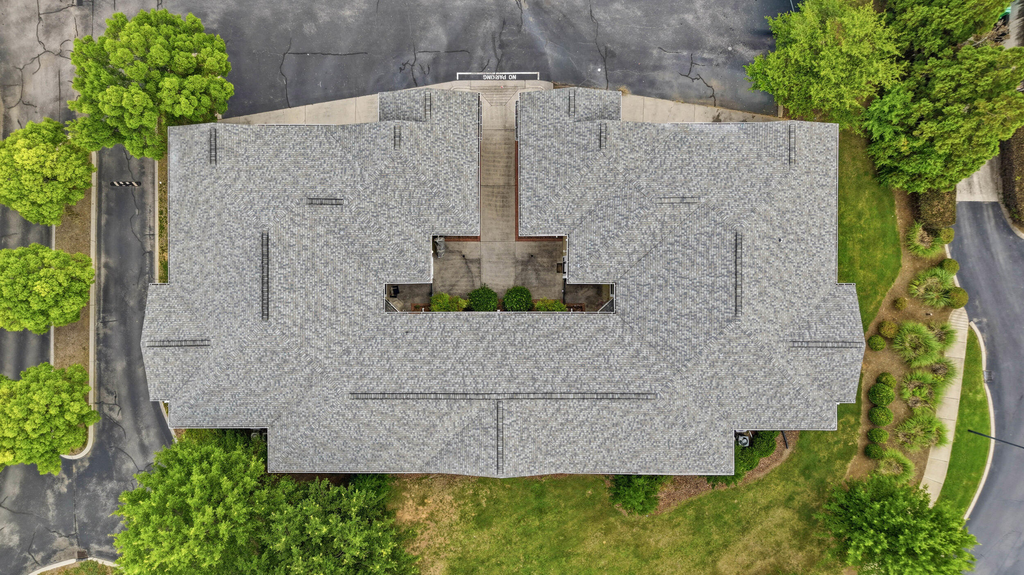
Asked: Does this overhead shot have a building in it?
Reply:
Yes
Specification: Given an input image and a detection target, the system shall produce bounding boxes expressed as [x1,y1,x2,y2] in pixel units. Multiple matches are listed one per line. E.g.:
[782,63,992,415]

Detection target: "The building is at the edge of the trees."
[140,87,865,481]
